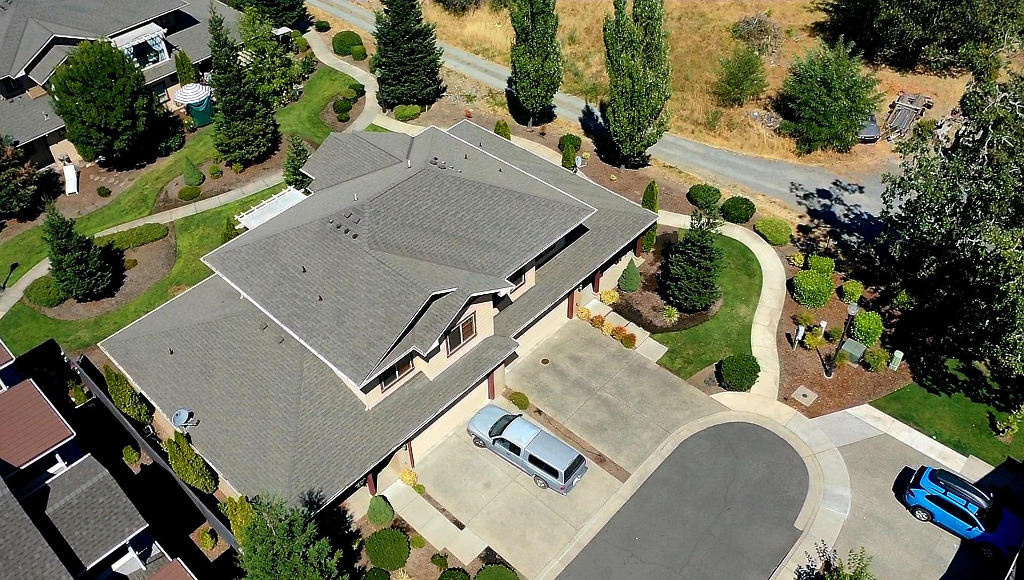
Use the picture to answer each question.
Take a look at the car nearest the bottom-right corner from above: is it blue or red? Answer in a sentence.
The car nearest the bottom-right corner is blue.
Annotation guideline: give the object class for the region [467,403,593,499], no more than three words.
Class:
truck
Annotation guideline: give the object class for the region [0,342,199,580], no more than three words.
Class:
house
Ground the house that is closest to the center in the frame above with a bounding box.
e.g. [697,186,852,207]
[95,118,664,529]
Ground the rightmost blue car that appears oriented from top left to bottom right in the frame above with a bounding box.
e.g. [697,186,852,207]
[900,462,1024,566]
